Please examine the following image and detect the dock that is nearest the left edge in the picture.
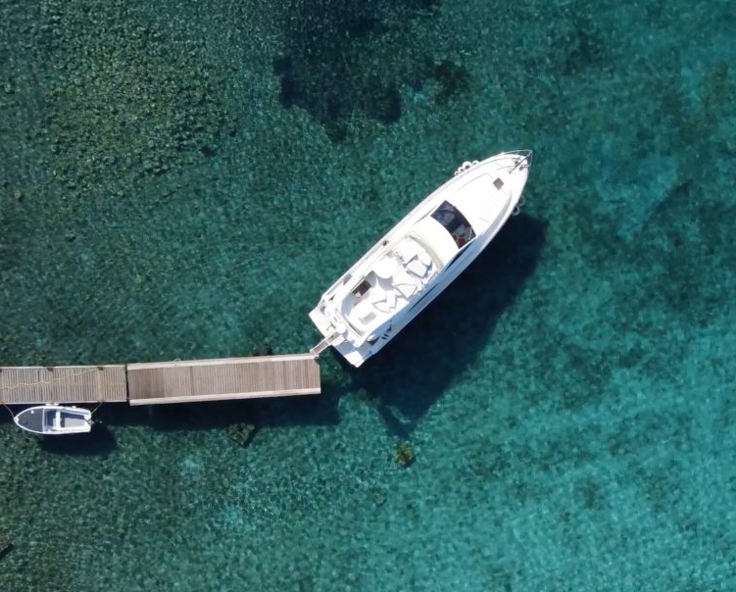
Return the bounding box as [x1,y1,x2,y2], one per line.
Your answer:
[0,366,127,405]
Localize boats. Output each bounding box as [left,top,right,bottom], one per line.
[13,405,99,434]
[310,151,529,365]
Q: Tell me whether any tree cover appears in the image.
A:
No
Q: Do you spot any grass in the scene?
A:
No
